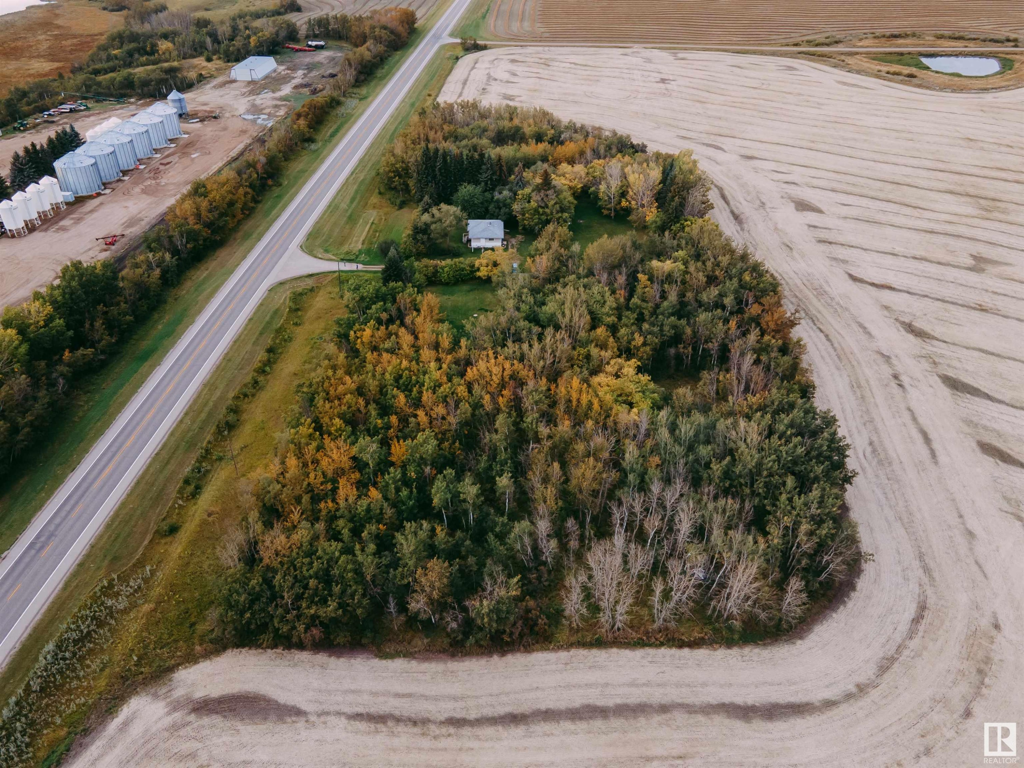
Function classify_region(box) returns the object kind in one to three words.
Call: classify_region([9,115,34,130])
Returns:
work vehicle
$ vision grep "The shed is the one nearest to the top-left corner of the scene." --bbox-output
[229,53,277,81]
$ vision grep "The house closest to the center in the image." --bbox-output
[468,217,505,247]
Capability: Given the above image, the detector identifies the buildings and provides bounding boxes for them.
[468,217,505,247]
[229,53,277,81]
